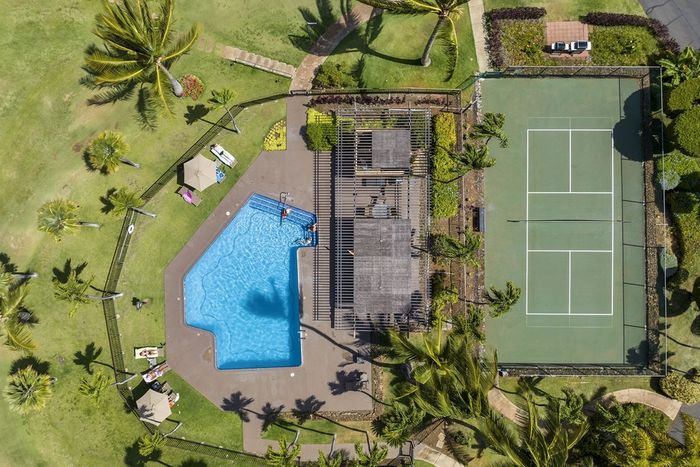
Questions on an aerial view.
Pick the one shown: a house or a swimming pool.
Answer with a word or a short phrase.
swimming pool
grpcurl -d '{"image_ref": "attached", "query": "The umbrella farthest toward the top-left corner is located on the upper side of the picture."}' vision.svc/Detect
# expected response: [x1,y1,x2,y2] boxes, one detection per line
[184,154,217,191]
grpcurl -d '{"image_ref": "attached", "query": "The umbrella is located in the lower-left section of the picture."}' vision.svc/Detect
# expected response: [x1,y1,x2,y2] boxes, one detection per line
[136,388,172,426]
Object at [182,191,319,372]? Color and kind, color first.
blue swimming pool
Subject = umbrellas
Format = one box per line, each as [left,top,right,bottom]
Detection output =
[136,388,172,426]
[184,154,217,191]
